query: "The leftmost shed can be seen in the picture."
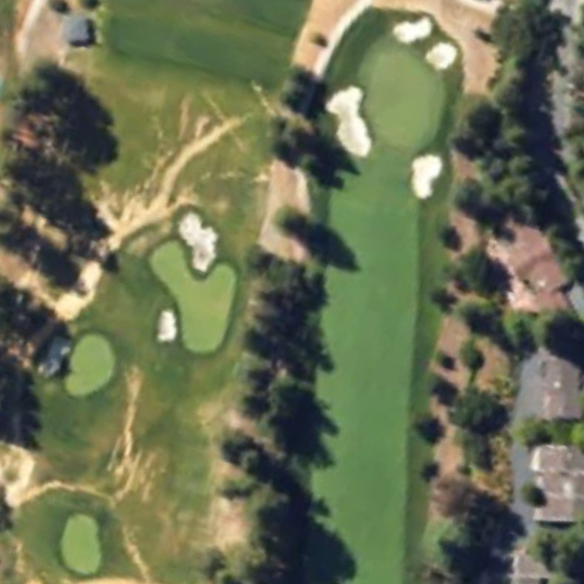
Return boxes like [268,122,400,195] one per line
[39,336,70,376]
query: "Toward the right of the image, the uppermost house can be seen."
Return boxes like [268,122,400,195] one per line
[494,225,576,313]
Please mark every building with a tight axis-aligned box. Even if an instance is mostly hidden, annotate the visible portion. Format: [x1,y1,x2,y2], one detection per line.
[39,336,70,376]
[494,225,576,313]
[531,446,584,523]
[65,15,93,43]
[533,350,584,420]
[512,547,546,584]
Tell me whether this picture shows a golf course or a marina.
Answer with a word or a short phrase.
golf course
